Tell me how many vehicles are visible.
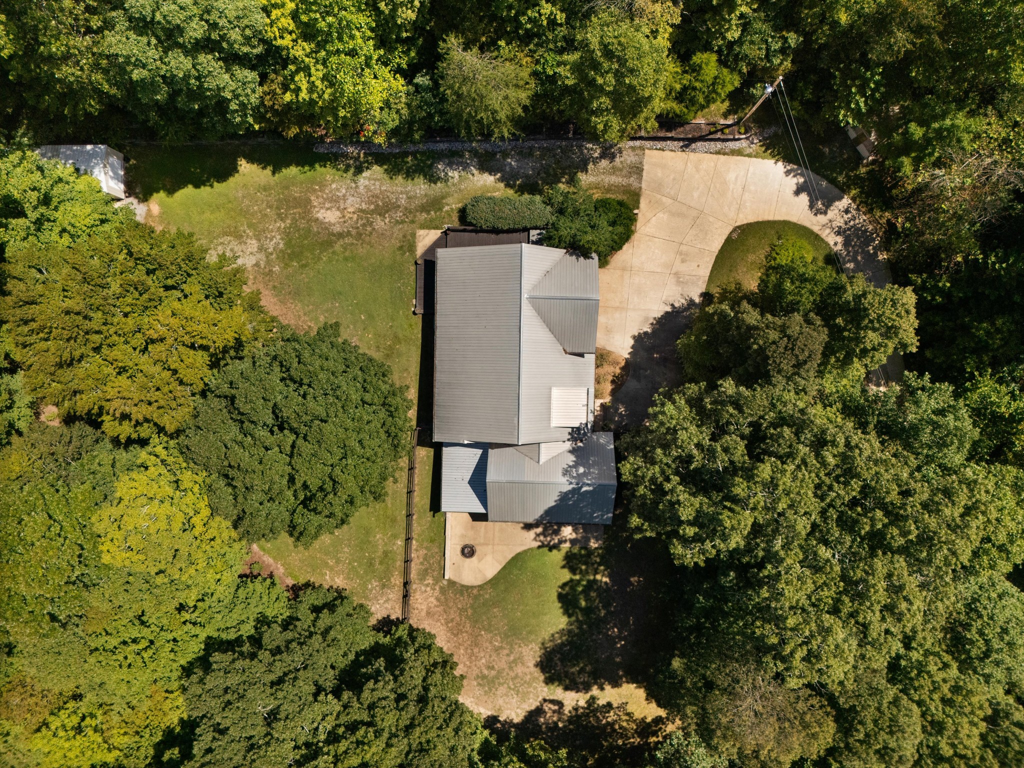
0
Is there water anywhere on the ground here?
No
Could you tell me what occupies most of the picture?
trees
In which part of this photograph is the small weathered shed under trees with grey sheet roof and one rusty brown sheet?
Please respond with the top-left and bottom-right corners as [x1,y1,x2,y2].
[836,123,876,165]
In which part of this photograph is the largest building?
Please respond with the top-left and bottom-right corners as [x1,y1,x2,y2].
[432,243,616,526]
